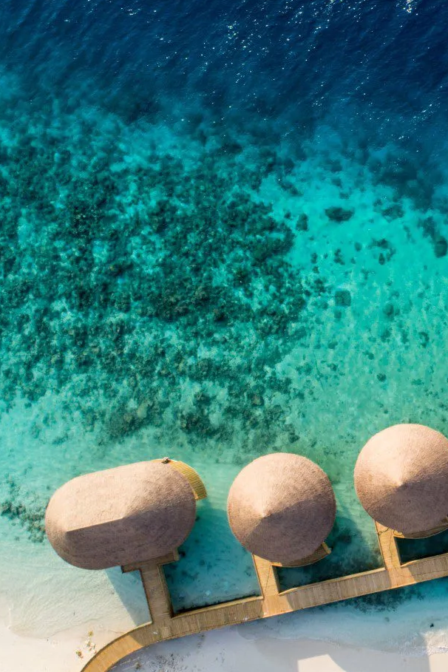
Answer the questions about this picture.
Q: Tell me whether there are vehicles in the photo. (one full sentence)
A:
No, no vehicle is visible in the view.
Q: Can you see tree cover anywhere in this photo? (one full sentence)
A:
No, there's no tree cover in this view.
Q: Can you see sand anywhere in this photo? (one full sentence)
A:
Yes, there is sand in the image.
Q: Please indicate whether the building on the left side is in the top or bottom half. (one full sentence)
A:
You can find the building on the left side in the bottom half.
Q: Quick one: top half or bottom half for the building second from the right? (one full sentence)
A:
The building second from the right sits in the bottom half of the picture.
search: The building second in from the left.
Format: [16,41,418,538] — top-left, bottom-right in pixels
[227,453,337,599]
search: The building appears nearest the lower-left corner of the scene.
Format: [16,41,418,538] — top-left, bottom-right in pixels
[45,457,209,624]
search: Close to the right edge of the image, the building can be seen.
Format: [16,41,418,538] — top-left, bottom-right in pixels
[354,423,448,572]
